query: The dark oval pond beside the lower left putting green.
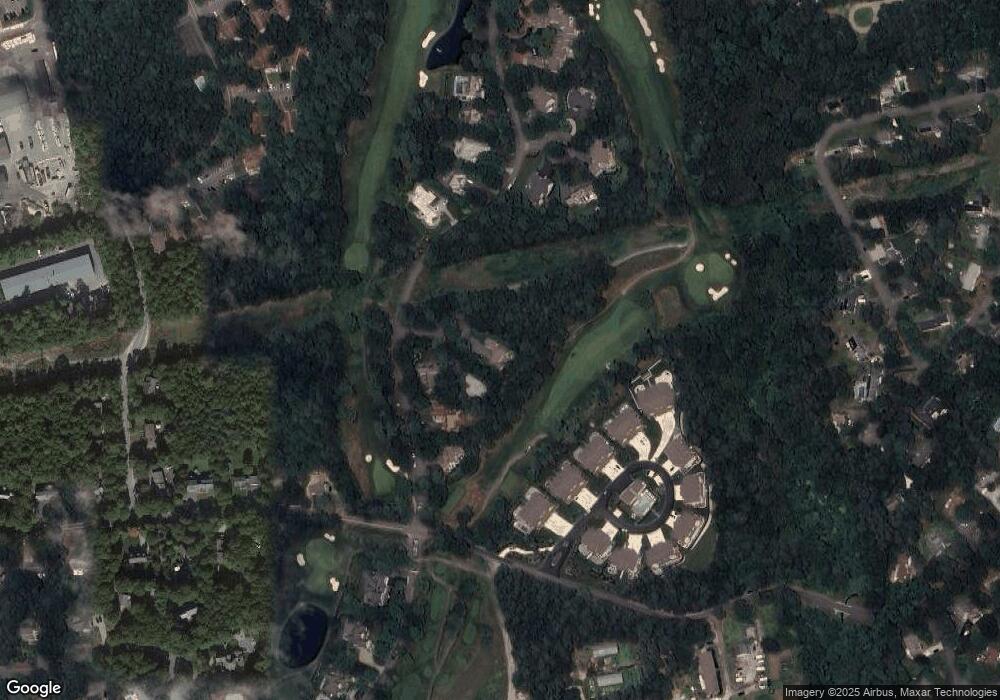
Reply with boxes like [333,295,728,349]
[279,604,327,669]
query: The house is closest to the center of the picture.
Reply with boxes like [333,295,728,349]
[483,334,513,367]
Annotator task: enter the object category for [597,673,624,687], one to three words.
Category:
shed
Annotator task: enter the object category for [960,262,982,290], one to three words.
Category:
barn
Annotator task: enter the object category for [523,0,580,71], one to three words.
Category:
building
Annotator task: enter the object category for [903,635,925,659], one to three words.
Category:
house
